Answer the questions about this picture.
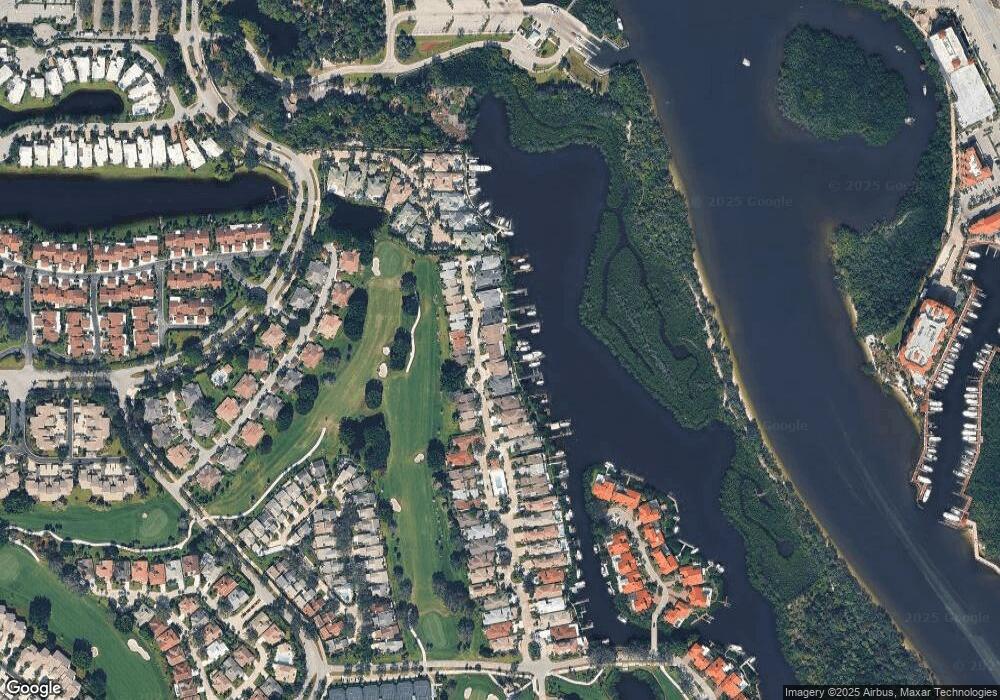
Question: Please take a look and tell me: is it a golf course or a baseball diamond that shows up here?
golf course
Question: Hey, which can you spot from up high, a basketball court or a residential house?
residential house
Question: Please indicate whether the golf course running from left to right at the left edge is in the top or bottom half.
bottom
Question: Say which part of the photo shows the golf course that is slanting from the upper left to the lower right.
bottom left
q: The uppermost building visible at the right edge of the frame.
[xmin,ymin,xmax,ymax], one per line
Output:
[931,24,979,74]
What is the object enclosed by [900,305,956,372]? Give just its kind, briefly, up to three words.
building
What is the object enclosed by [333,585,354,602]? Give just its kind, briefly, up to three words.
swimming pool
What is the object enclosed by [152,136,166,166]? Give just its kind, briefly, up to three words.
house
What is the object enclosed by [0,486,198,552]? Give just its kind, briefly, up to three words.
golf course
